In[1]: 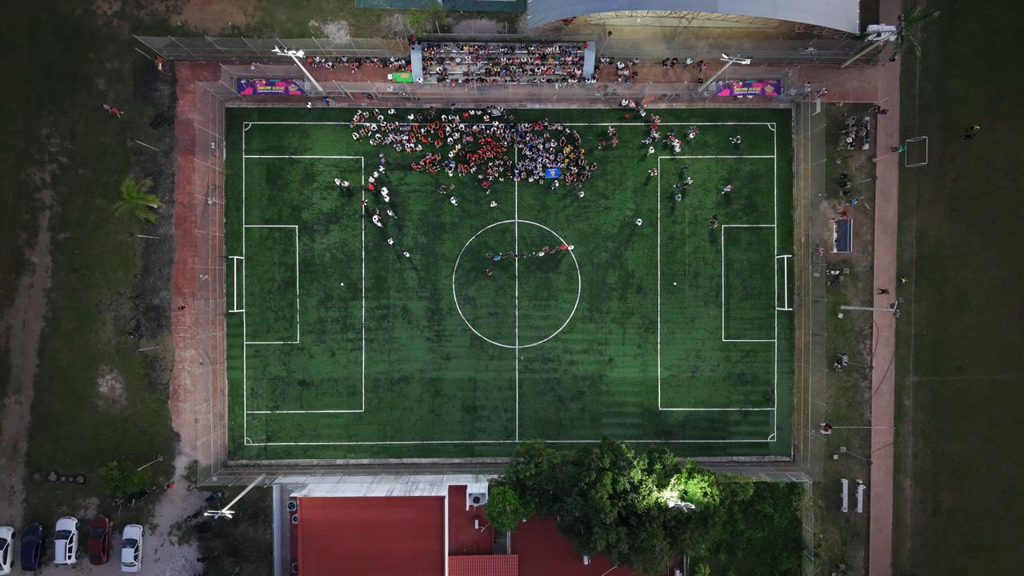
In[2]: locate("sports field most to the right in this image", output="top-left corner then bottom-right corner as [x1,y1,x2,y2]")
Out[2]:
[892,0,1024,576]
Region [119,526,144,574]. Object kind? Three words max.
car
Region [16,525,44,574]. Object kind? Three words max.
car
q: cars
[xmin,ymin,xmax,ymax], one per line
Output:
[52,517,81,567]
[85,517,112,567]
[119,526,144,574]
[0,528,14,576]
[16,525,44,574]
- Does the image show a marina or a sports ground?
sports ground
